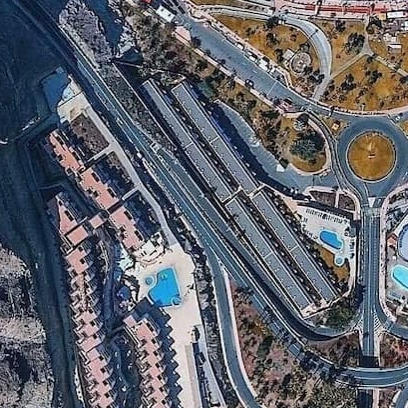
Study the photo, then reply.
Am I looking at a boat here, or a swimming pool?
swimming pool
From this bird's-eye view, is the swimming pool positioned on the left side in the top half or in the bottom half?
bottom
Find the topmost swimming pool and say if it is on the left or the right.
right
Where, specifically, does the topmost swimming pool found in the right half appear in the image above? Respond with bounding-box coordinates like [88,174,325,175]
[318,225,346,265]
